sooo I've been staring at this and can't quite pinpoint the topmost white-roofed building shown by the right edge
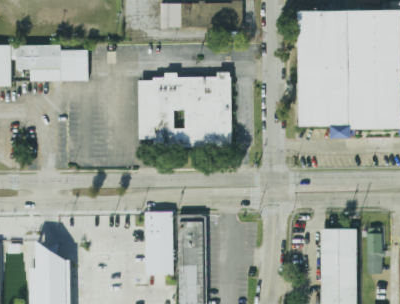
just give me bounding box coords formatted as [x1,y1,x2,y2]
[298,11,400,129]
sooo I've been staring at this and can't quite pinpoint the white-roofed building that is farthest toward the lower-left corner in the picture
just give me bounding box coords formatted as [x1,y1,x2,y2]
[29,242,72,304]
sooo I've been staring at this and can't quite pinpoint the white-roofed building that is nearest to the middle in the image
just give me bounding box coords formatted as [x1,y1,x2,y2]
[138,72,233,145]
